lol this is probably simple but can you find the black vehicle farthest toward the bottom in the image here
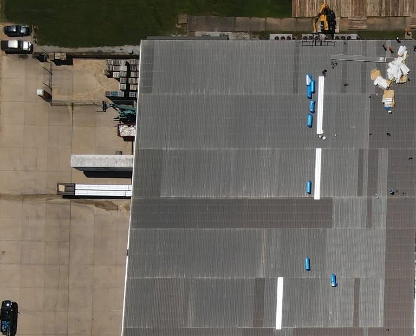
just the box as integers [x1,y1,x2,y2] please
[0,301,18,336]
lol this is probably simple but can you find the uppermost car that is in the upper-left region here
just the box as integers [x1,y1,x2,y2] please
[4,24,31,37]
